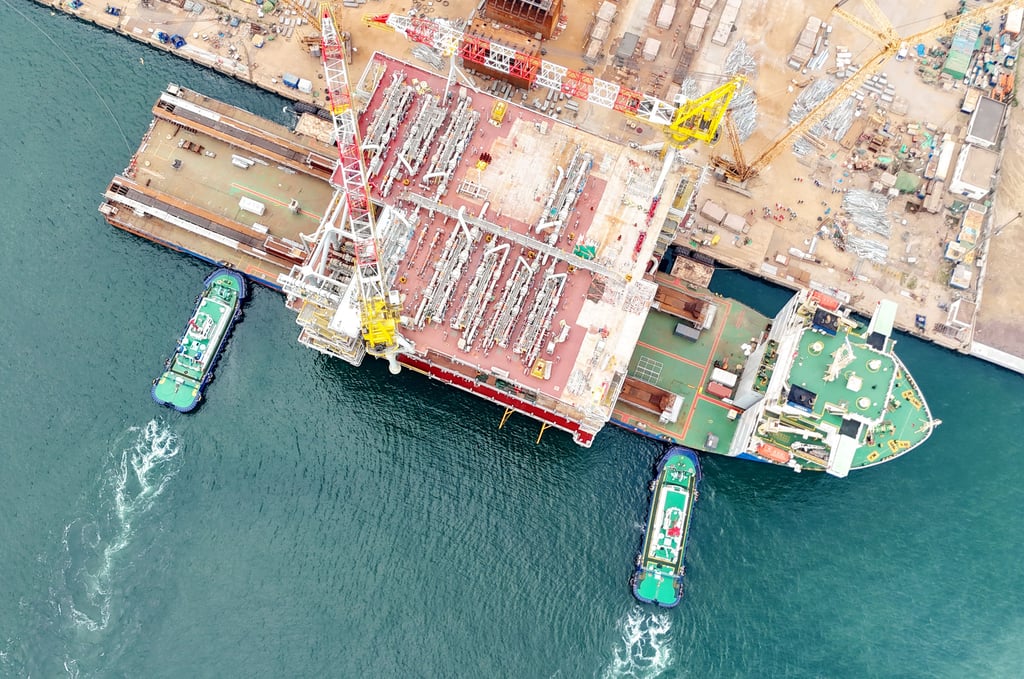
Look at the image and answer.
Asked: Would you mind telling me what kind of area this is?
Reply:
port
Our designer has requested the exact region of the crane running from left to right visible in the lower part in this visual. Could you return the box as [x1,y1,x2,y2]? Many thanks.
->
[761,418,823,441]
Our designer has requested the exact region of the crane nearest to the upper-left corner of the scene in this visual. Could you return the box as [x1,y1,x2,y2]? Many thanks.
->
[275,0,351,65]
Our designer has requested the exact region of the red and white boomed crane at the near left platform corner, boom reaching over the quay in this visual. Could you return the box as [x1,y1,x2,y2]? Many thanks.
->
[319,0,401,372]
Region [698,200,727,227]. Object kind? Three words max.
building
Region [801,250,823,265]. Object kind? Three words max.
vehicle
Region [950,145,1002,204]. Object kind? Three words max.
building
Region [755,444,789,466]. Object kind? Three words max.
boat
